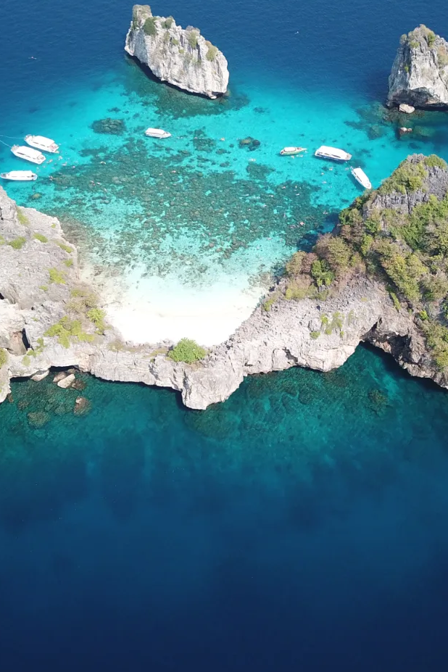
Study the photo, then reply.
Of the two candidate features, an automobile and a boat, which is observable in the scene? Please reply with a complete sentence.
Of the two, only a boat appears.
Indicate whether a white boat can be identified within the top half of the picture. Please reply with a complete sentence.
Yes, you'll find a white boat within the top half of the picture.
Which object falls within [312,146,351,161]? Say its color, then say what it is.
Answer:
white boat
